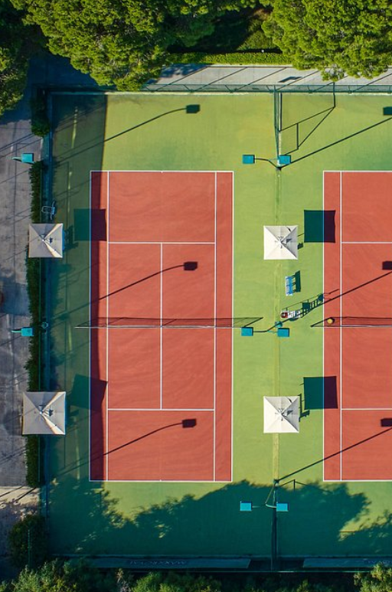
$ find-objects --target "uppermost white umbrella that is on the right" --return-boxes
[264,225,299,260]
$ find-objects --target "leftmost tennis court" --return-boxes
[51,92,276,555]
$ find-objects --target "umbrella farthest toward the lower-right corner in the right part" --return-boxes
[264,395,301,432]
